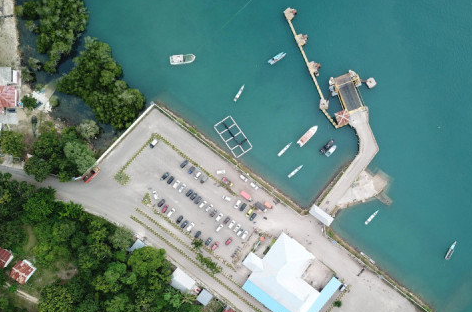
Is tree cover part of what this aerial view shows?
Yes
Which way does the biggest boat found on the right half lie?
at an angle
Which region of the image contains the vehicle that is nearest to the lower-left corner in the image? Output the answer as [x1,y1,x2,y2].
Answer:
[82,167,98,184]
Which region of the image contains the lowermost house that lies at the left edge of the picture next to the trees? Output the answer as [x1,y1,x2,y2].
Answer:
[11,260,37,285]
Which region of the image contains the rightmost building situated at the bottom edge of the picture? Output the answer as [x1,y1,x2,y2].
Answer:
[242,232,341,312]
